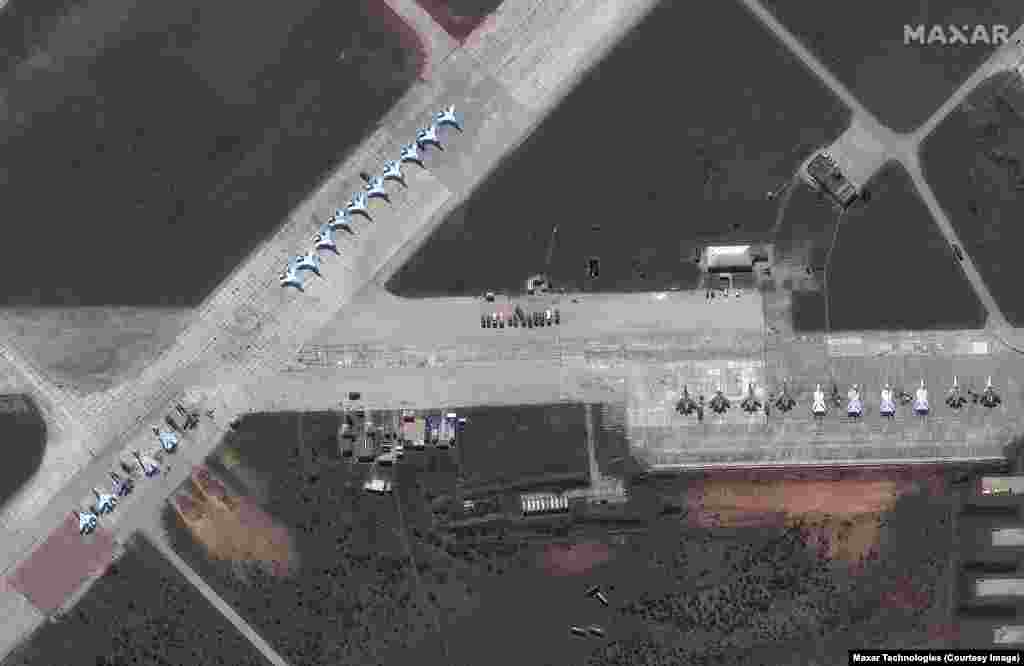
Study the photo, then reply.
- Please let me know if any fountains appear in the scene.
No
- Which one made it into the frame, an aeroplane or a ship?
aeroplane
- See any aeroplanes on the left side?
Yes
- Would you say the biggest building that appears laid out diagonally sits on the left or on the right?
right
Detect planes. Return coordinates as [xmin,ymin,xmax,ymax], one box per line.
[847,386,862,416]
[811,385,826,415]
[326,205,354,231]
[156,425,179,452]
[709,387,731,417]
[77,509,101,535]
[914,381,930,414]
[979,377,1001,408]
[740,385,762,416]
[396,142,425,166]
[343,191,371,215]
[361,176,389,198]
[434,105,462,128]
[378,160,407,183]
[108,472,131,499]
[775,386,797,416]
[879,382,895,415]
[313,226,340,251]
[675,386,697,416]
[137,453,161,480]
[295,249,323,274]
[946,379,967,409]
[416,125,444,147]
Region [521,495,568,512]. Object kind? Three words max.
shed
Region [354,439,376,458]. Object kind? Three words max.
building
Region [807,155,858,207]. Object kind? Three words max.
building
